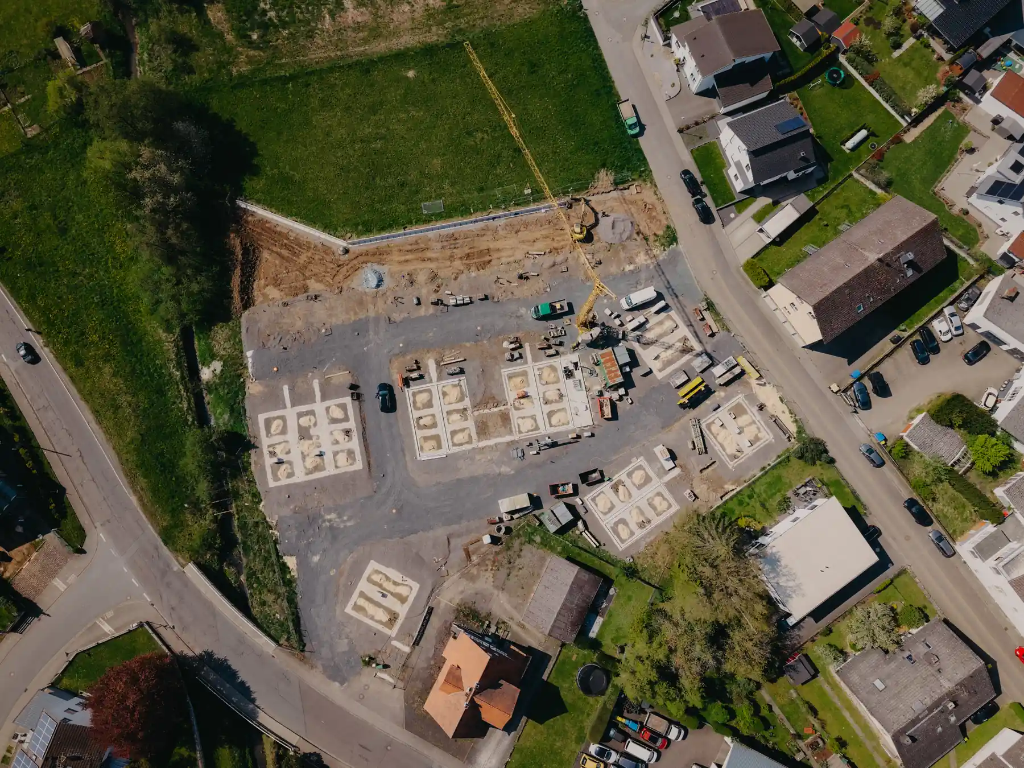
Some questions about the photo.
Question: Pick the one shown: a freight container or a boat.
freight container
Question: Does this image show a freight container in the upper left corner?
No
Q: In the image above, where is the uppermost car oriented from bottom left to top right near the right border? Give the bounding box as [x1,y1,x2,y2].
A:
[953,284,981,313]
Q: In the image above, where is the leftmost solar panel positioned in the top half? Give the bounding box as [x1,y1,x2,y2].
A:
[775,114,807,134]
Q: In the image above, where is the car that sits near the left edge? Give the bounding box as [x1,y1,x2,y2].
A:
[18,340,40,365]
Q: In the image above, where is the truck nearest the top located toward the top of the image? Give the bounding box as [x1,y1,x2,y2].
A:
[617,99,643,141]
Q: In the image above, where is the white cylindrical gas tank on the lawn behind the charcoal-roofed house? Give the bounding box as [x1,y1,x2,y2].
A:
[840,123,871,153]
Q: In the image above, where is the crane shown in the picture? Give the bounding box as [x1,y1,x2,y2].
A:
[462,39,618,347]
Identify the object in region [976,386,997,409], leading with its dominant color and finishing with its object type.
white car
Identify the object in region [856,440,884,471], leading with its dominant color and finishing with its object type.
gray car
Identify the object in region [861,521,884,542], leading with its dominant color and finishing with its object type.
black car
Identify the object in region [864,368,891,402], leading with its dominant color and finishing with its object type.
black truck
